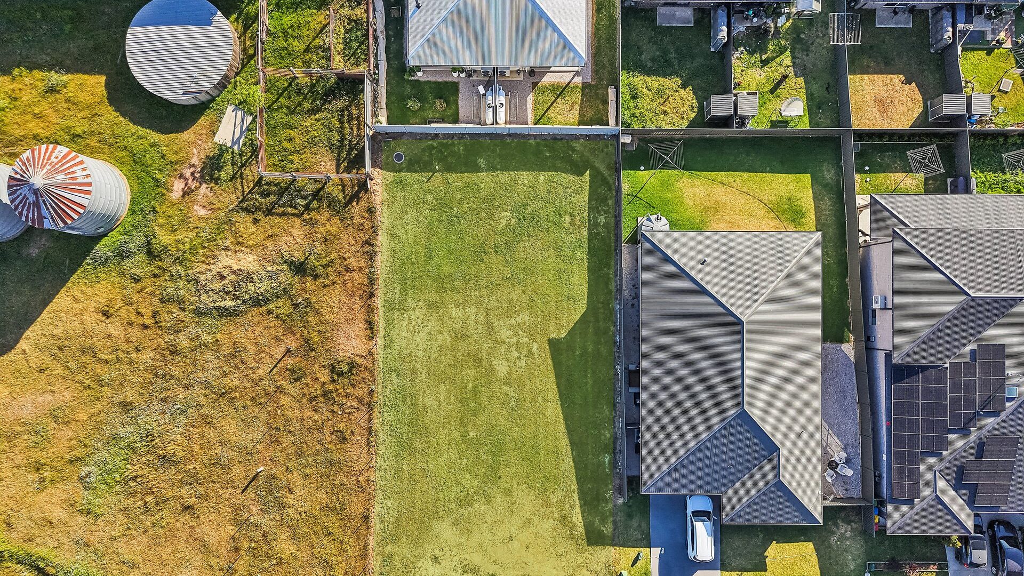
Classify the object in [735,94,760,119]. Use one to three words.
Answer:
shed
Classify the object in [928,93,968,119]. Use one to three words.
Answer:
shed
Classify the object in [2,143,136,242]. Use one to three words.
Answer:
silo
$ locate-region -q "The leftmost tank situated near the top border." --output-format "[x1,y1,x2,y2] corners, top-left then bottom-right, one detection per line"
[122,0,244,108]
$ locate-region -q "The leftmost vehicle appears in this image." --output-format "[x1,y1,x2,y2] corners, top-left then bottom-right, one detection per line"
[682,494,715,563]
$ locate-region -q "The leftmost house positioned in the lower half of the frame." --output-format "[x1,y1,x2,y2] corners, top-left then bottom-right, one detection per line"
[636,230,823,525]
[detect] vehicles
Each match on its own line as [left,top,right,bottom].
[962,513,995,575]
[682,494,715,563]
[989,522,1024,576]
